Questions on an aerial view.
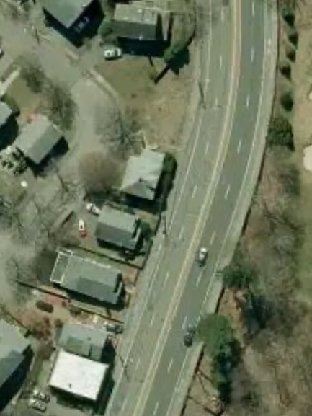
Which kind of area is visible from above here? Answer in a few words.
residential area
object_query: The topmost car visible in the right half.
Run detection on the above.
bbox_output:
[196,246,208,266]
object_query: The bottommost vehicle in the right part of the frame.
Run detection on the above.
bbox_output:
[184,326,196,345]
